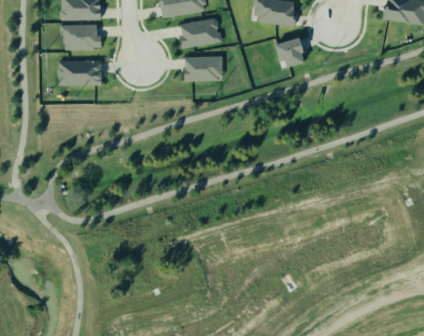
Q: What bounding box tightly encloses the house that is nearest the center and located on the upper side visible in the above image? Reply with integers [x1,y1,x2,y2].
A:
[184,56,224,81]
